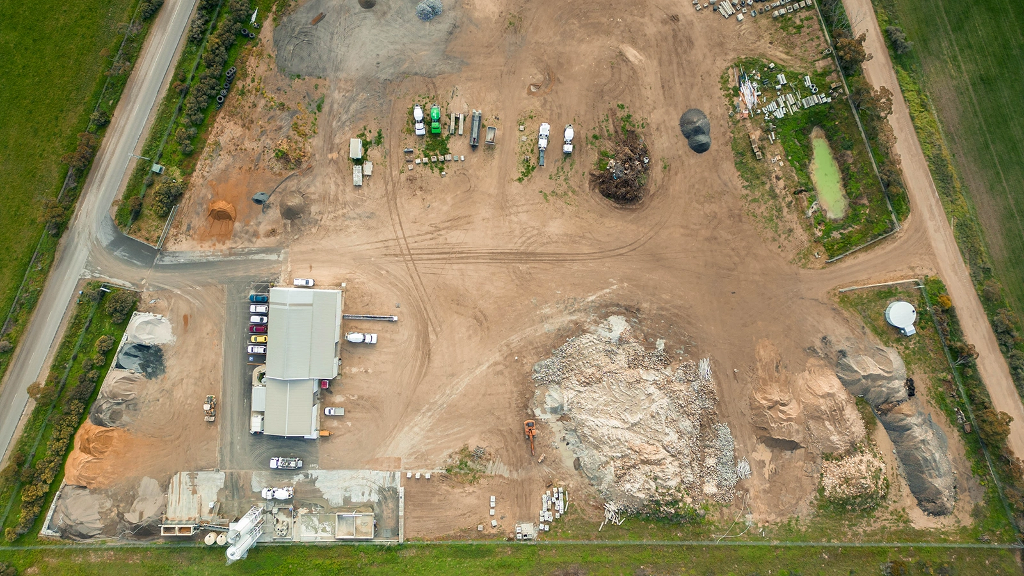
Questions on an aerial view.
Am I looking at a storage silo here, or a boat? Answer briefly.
storage silo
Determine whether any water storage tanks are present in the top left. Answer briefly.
No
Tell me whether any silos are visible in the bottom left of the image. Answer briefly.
Yes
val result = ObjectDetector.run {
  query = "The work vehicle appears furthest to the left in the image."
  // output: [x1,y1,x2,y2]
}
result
[202,394,216,420]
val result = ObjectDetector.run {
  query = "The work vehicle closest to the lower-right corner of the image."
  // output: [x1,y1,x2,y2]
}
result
[524,419,536,456]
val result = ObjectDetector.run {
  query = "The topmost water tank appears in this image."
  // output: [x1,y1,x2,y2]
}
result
[883,301,916,329]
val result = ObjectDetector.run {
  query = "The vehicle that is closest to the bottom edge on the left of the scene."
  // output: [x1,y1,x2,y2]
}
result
[259,488,292,502]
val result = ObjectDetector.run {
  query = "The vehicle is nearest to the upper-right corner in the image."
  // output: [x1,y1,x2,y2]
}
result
[562,120,574,154]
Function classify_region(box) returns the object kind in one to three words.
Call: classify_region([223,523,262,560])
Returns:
silo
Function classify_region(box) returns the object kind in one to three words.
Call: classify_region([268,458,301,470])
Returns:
vehicle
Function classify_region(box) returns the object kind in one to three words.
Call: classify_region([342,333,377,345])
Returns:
vehicle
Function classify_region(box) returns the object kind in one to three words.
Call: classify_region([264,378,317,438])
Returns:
shed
